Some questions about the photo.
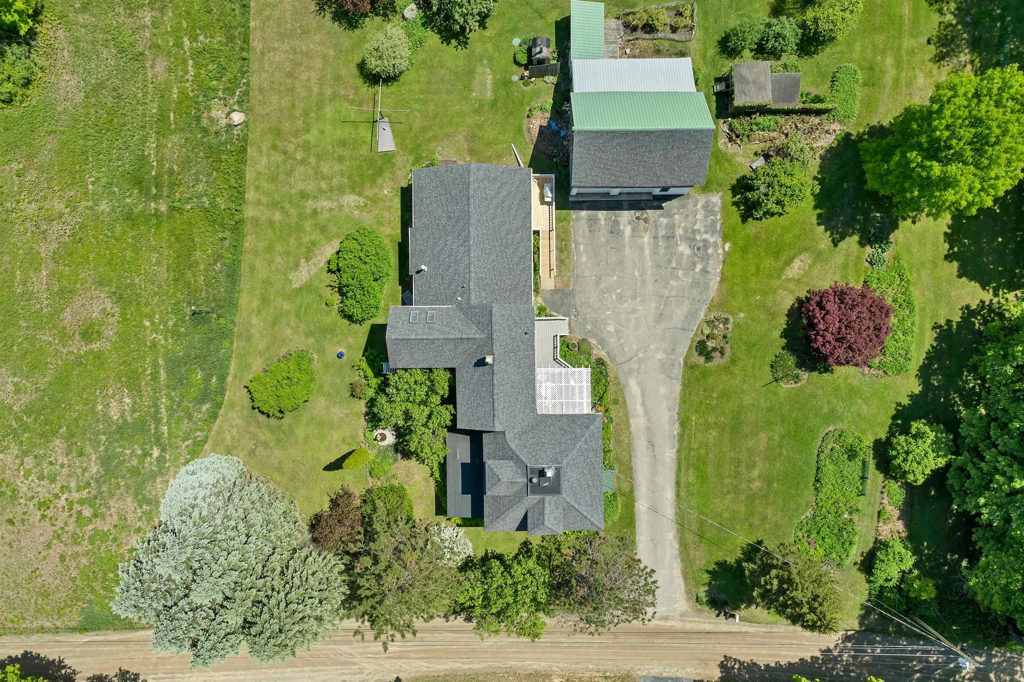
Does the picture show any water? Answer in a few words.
No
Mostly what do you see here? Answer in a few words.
grass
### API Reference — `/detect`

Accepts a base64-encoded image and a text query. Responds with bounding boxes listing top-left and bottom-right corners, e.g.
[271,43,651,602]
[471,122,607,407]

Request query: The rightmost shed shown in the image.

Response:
[726,59,801,110]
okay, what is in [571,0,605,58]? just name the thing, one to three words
shed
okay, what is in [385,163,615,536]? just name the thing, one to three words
house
